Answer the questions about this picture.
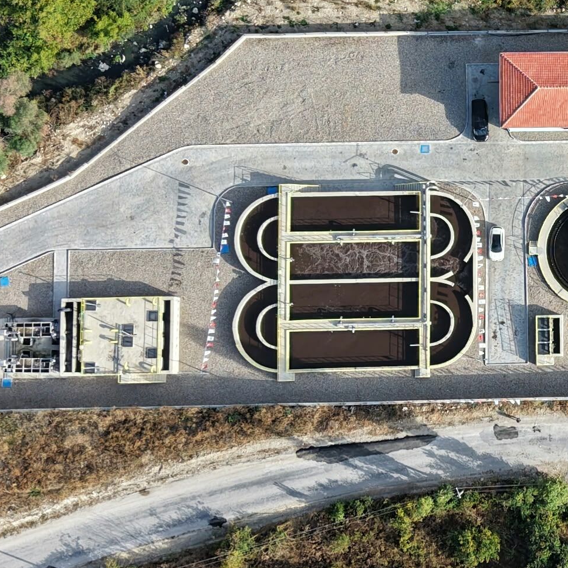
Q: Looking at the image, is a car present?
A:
Yes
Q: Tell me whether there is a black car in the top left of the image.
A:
No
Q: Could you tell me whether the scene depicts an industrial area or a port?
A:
industrial area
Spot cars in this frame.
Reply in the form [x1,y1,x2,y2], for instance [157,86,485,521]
[471,98,489,141]
[487,226,505,261]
